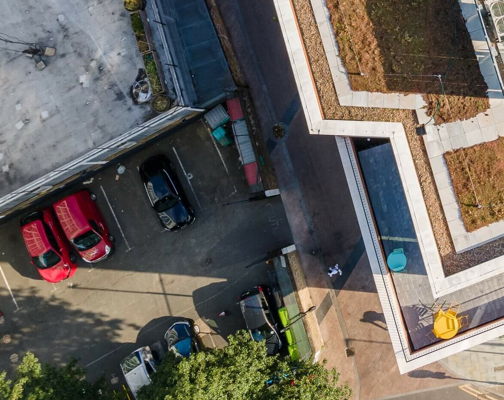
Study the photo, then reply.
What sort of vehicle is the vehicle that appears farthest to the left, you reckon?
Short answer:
automobile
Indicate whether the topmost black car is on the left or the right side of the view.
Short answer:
left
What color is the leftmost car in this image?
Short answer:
red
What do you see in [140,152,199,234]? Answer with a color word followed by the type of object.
black car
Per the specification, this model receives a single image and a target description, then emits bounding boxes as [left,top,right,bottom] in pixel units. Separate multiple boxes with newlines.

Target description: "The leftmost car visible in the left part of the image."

[16,207,76,287]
